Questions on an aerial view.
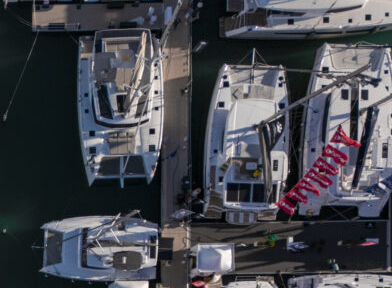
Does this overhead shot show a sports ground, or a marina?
marina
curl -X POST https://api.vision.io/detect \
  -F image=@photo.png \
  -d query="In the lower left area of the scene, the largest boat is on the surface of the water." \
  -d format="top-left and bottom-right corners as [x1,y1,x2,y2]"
[40,208,167,285]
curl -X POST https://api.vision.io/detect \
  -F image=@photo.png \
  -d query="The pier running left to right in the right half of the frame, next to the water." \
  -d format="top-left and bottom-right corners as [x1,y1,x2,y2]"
[190,221,389,273]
